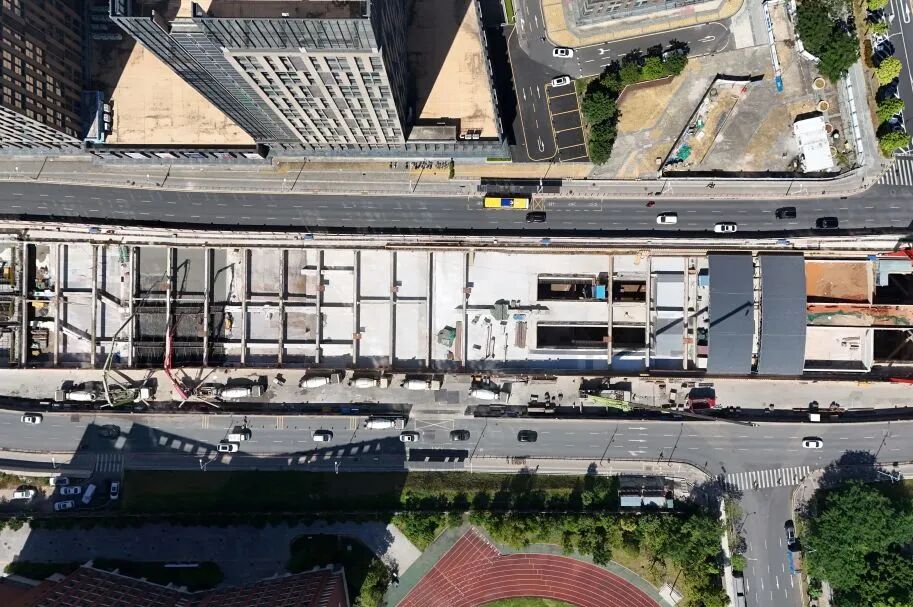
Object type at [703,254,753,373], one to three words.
shed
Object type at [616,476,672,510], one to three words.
building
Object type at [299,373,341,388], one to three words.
vehicle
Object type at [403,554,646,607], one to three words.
running track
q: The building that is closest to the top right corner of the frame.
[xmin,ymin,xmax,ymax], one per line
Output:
[788,116,835,174]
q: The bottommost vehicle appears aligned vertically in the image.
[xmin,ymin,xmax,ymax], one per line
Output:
[734,577,746,603]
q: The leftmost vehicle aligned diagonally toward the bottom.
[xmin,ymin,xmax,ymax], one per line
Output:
[79,483,98,505]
